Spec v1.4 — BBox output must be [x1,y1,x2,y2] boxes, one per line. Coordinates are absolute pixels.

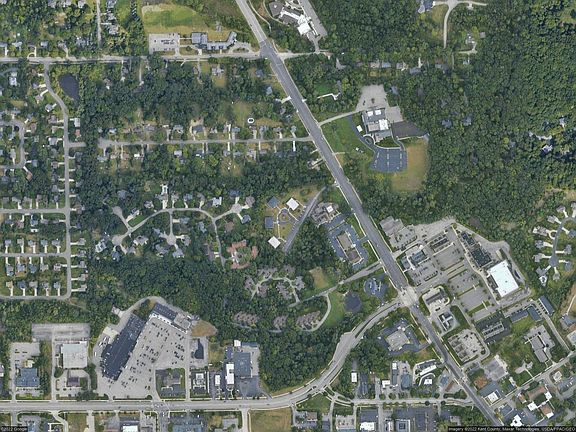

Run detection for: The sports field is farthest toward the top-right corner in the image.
[399,145,427,190]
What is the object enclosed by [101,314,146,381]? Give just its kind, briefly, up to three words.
building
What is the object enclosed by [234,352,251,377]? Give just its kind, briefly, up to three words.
building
